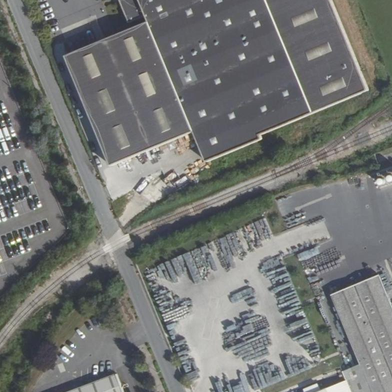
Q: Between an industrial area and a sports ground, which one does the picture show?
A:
industrial area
